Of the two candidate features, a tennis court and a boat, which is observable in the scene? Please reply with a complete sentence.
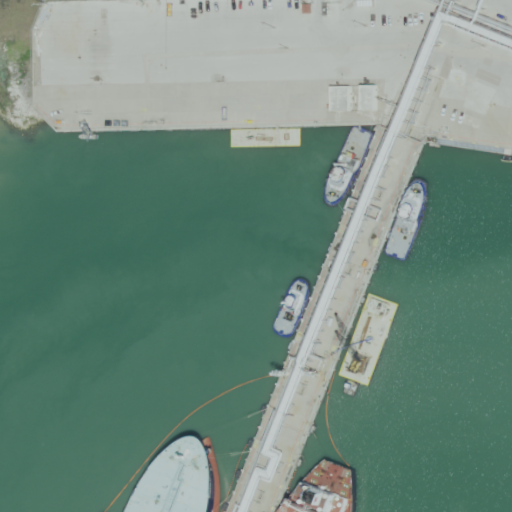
This aerial view contains a boat.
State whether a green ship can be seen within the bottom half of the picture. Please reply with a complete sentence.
No, no green ship is visible within the bottom half of the picture.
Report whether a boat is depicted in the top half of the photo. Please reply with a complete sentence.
Yes, in the top half of the photo there is a boat.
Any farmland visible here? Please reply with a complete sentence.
No, there's no farmland in this view.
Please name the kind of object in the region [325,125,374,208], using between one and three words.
boat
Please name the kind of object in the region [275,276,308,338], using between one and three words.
boat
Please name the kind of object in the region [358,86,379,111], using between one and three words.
shed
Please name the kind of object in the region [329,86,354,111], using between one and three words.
shed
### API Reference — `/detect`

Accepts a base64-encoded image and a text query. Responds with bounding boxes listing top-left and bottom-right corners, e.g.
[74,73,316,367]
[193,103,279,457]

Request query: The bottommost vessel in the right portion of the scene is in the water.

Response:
[276,458,354,512]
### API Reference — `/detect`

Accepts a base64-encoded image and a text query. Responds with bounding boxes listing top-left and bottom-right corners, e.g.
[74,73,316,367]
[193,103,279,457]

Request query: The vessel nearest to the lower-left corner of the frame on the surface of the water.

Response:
[124,430,219,512]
